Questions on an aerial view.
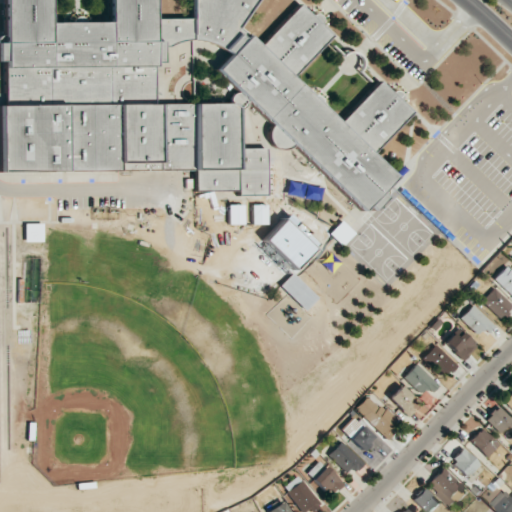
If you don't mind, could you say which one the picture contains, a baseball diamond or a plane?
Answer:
baseball diamond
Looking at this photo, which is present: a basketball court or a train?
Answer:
basketball court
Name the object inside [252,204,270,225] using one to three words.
building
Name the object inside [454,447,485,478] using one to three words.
house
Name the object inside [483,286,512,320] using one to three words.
house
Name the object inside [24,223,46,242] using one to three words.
building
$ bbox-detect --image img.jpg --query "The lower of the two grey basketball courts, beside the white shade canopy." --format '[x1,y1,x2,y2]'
[350,224,409,280]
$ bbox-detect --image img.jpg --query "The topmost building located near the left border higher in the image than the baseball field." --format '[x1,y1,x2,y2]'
[0,0,196,102]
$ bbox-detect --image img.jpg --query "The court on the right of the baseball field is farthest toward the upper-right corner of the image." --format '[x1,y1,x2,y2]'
[375,198,434,255]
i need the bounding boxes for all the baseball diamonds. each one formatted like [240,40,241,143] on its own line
[33,223,293,485]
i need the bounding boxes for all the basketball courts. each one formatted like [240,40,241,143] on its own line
[350,224,409,280]
[375,198,434,255]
